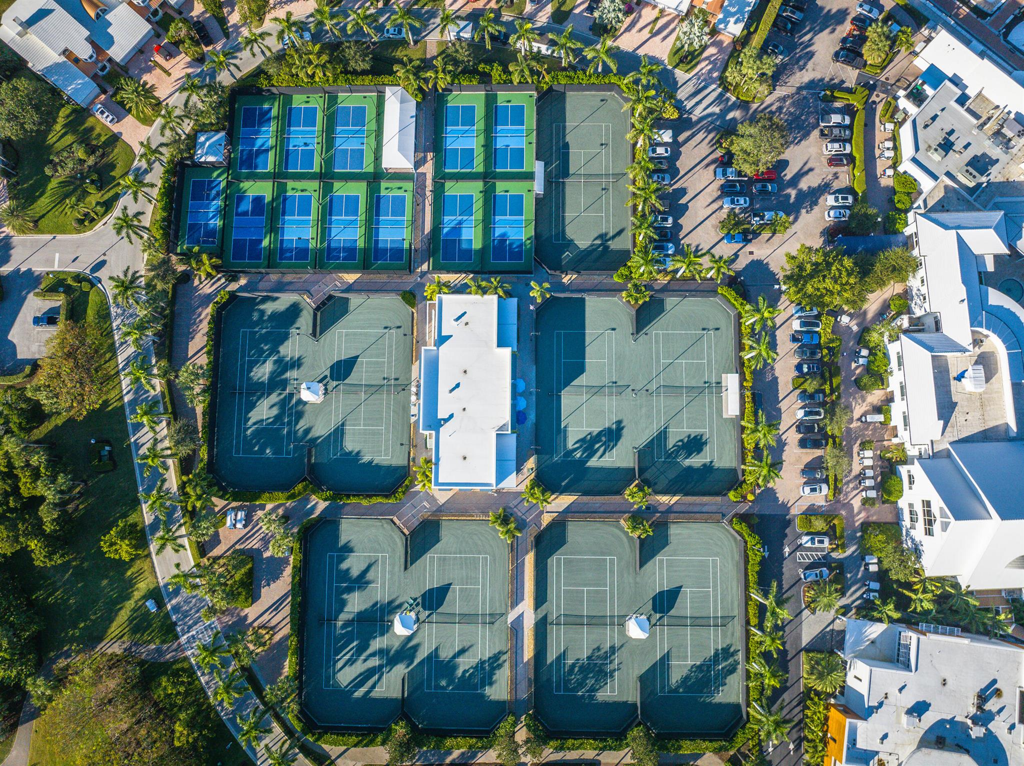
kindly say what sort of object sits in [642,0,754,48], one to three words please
house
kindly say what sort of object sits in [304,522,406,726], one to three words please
tennis court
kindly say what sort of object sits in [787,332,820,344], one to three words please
vehicle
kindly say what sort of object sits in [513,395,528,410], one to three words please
umbrella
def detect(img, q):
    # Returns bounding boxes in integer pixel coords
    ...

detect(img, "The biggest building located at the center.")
[418,294,518,489]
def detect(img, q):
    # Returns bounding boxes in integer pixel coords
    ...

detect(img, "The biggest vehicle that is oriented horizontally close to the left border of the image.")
[31,315,63,327]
